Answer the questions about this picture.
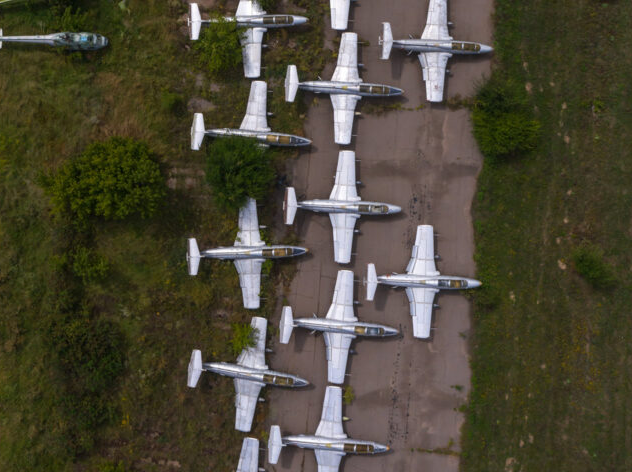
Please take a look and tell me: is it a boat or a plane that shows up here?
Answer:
plane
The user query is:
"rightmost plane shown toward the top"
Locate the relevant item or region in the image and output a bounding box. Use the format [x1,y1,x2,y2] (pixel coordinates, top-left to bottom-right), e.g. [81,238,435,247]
[378,0,494,102]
